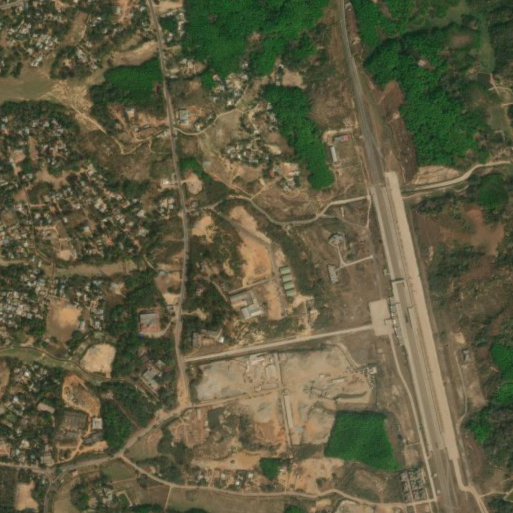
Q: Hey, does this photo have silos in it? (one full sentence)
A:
No, the frame has no silo in it.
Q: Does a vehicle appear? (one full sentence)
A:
No, I can see no vehicle in this picture.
